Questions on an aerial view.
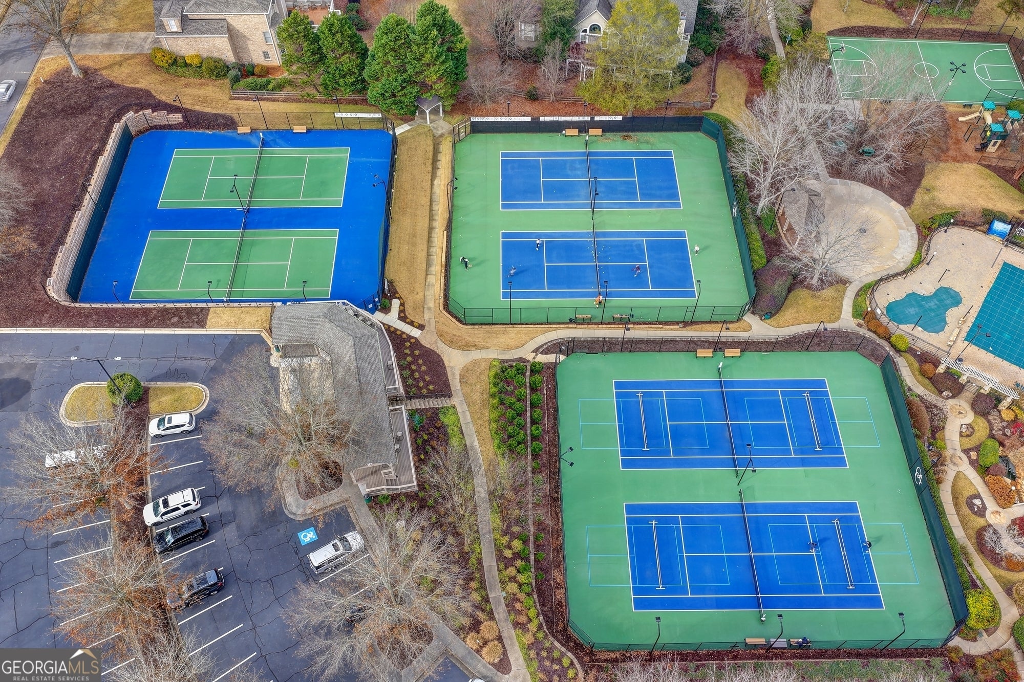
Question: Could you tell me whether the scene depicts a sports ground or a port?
sports ground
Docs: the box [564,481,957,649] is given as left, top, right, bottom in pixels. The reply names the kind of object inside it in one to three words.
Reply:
tennis court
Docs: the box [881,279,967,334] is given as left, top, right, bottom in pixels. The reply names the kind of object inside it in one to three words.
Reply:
swimming pool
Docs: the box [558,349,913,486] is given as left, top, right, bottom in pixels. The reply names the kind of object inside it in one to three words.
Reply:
tennis court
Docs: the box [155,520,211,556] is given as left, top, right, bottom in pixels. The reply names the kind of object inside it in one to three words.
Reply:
car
